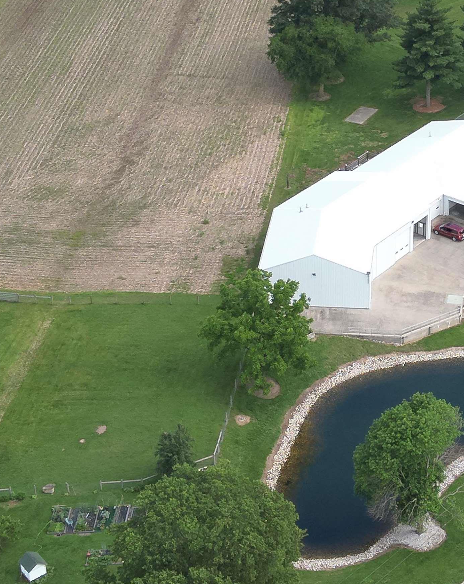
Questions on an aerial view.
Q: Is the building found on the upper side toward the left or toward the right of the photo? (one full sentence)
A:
You can find the building found on the upper side on the right side of the picture.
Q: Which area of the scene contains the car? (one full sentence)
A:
The car appears toward the right of the photo.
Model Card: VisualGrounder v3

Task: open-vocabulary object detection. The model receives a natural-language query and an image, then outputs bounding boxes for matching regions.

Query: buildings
[257,118,464,309]
[19,550,47,580]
